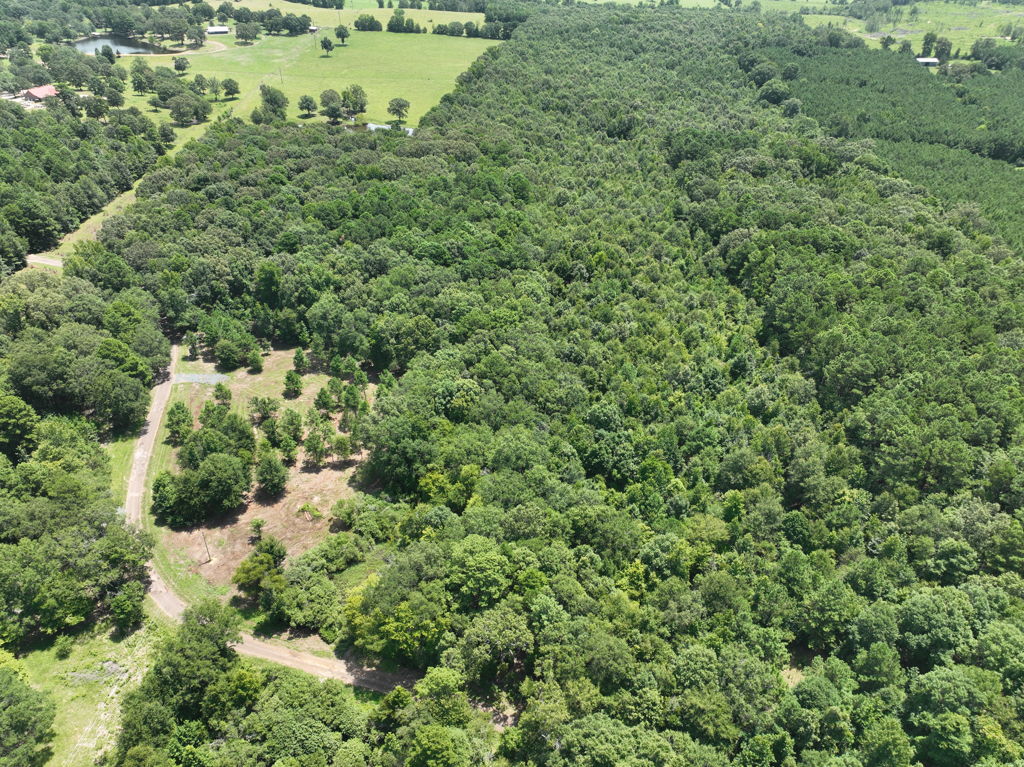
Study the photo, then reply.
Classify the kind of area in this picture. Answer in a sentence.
The area seen from above is a forest.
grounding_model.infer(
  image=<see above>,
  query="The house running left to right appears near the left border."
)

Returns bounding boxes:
[22,85,59,99]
